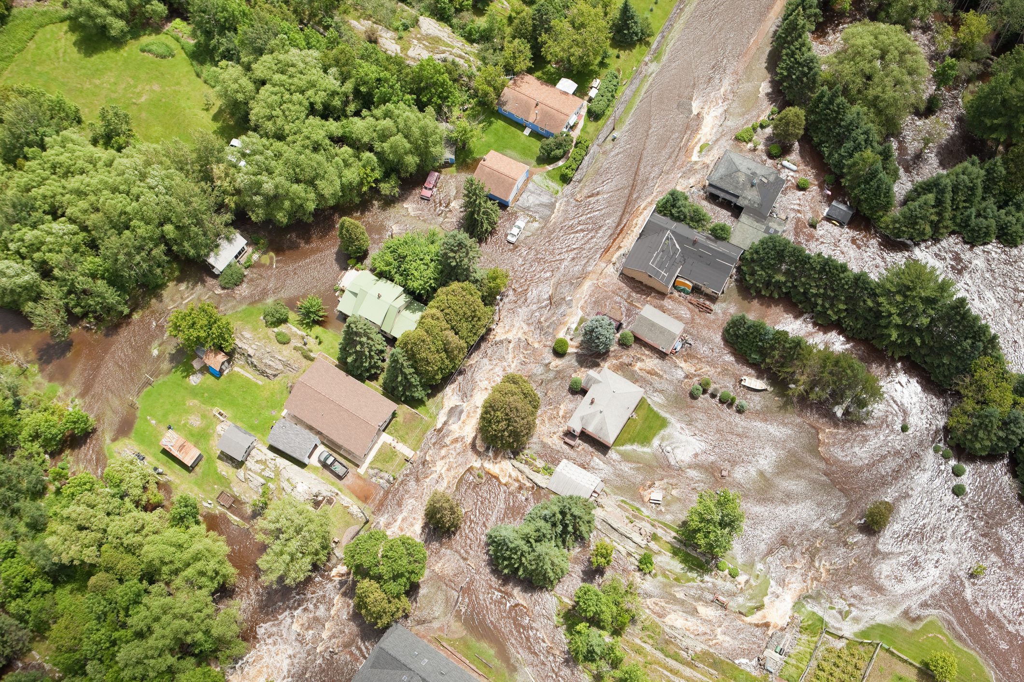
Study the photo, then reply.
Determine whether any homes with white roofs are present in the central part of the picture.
Yes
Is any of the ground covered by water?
Yes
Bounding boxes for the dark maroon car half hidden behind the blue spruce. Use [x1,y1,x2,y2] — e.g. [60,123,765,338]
[595,311,627,335]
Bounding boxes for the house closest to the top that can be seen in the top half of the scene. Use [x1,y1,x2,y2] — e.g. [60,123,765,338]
[500,72,583,135]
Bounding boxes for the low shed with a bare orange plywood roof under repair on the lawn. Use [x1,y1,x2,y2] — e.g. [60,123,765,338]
[159,430,205,469]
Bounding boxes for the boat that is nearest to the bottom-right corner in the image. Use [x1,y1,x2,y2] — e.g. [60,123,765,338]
[738,374,769,389]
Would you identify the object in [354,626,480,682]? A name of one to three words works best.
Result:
house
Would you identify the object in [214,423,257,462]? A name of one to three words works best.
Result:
shed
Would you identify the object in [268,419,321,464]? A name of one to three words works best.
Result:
building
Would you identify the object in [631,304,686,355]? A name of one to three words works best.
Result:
shed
